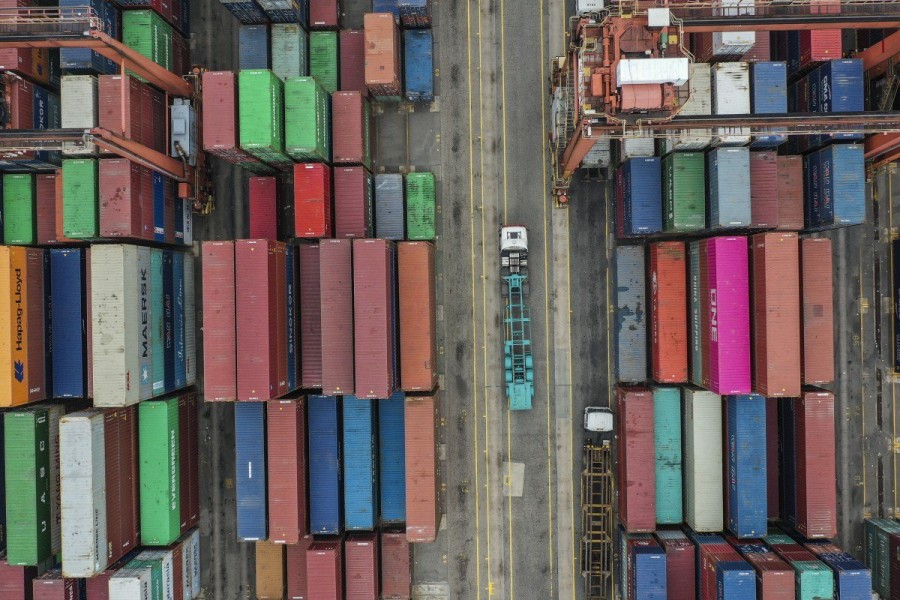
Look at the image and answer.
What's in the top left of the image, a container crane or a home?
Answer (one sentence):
Looking in the top left of the image, you will find a container crane.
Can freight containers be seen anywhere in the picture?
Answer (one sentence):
Yes, a freight container is visible in the scene.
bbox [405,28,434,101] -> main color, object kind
blue shipping container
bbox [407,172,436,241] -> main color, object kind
green shipping container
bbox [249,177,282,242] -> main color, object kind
red shipping container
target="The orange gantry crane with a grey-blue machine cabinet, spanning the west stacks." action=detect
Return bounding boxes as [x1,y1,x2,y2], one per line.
[0,11,211,217]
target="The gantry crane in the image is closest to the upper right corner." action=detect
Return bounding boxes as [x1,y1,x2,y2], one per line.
[545,0,900,211]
